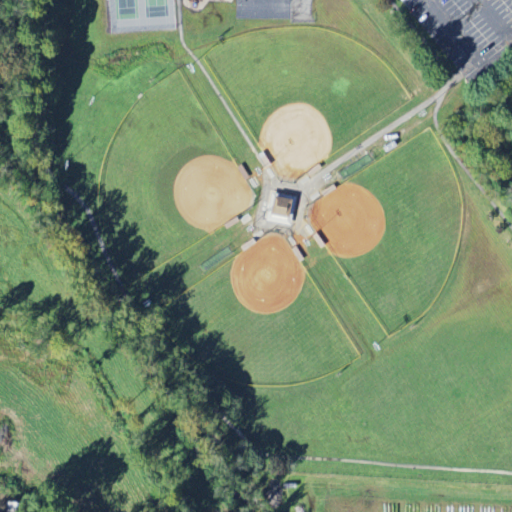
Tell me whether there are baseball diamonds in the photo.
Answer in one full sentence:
Yes, the picture does show a baseball diamond.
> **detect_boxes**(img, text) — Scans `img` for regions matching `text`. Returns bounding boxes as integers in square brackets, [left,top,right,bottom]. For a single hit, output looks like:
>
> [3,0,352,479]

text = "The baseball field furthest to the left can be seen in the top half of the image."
[99,70,254,288]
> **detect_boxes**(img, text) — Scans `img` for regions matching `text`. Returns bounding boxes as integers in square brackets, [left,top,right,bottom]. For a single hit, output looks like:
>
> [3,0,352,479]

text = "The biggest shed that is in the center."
[266,191,298,222]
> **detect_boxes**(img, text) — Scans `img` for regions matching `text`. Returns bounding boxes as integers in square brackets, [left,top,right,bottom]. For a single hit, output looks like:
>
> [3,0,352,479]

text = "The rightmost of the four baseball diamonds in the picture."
[311,129,462,336]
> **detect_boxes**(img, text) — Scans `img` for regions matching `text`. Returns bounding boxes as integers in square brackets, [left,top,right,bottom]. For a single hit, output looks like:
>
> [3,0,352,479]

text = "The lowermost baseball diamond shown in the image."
[158,234,358,386]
